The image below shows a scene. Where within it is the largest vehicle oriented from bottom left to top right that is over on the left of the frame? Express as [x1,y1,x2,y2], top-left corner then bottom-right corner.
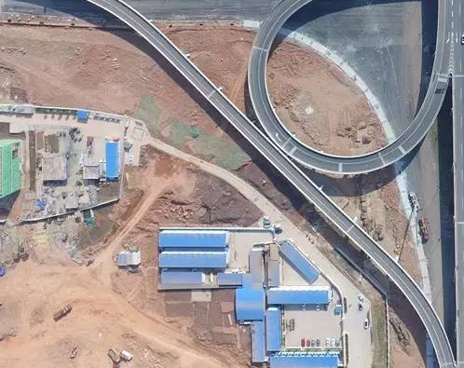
[50,307,70,323]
